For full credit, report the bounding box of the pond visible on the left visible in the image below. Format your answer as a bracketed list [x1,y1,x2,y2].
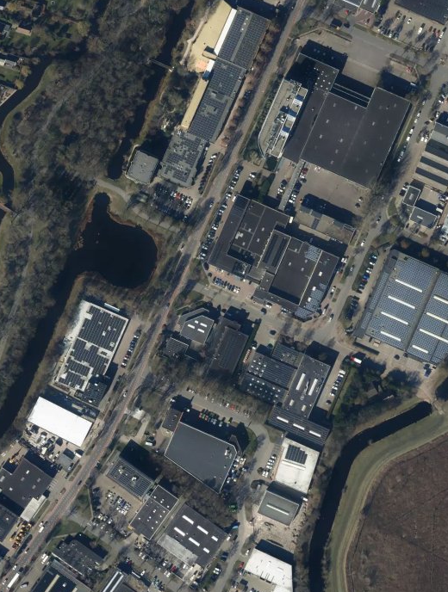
[45,193,157,288]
